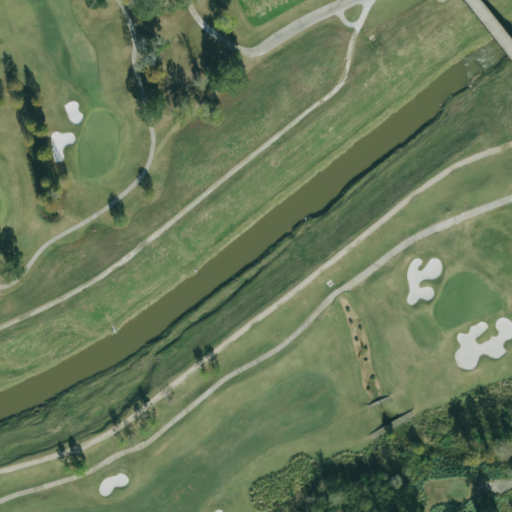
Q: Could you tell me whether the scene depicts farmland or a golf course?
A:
golf course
